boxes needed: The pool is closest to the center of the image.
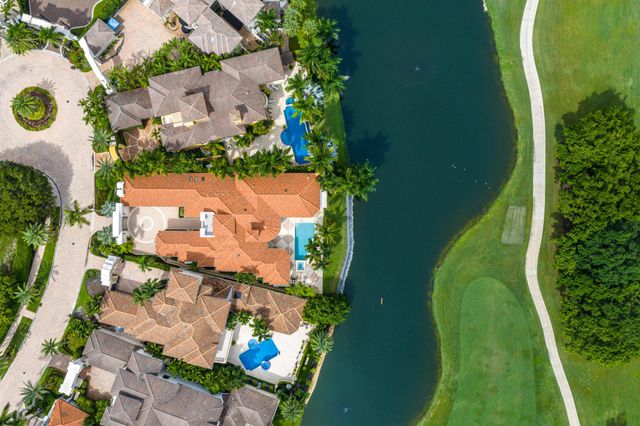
[291,220,319,263]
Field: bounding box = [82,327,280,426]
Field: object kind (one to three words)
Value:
house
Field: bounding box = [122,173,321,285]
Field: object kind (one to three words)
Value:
house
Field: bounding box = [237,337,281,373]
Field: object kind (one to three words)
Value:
swimming pool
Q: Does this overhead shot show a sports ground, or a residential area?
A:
residential area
